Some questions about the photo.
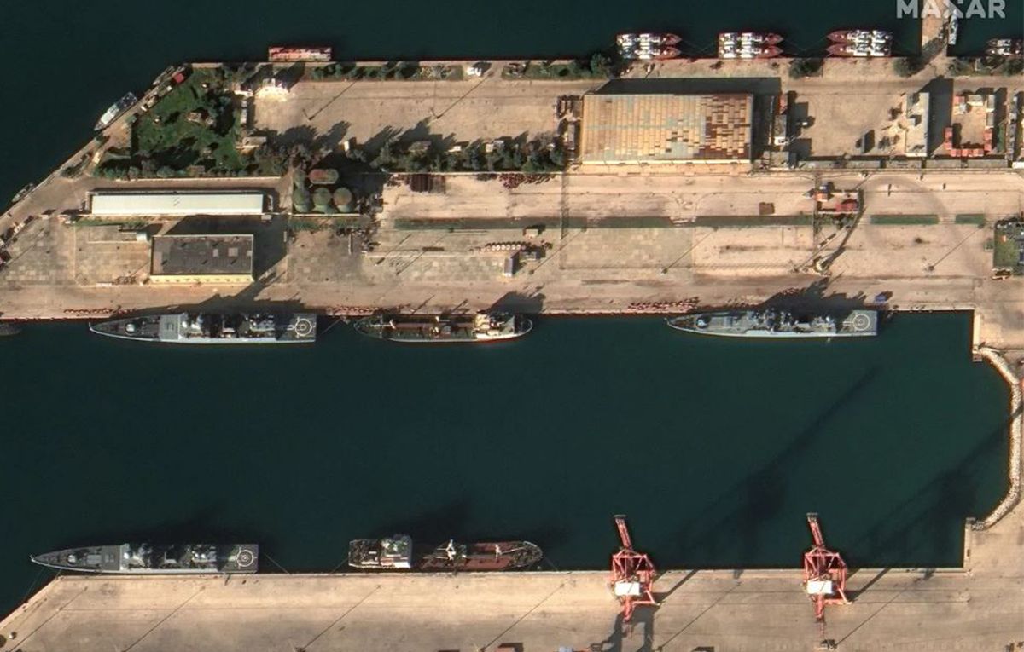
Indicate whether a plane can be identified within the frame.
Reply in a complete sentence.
No, this view has no plane in it.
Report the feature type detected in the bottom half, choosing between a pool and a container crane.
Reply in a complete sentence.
The one visible in the bottom half is a container crane.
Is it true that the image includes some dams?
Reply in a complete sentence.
No, I find no dam anywhere in the image.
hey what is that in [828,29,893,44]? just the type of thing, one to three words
boat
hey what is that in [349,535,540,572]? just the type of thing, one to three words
ship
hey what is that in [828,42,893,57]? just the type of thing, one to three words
boat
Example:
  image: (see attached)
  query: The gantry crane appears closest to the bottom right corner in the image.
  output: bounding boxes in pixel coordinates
[804,515,855,630]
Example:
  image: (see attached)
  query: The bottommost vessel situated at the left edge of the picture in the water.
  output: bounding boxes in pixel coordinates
[30,545,259,575]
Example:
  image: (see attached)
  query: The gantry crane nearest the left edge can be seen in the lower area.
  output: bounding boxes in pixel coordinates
[611,517,663,631]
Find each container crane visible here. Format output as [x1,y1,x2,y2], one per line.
[611,517,663,631]
[804,515,855,630]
